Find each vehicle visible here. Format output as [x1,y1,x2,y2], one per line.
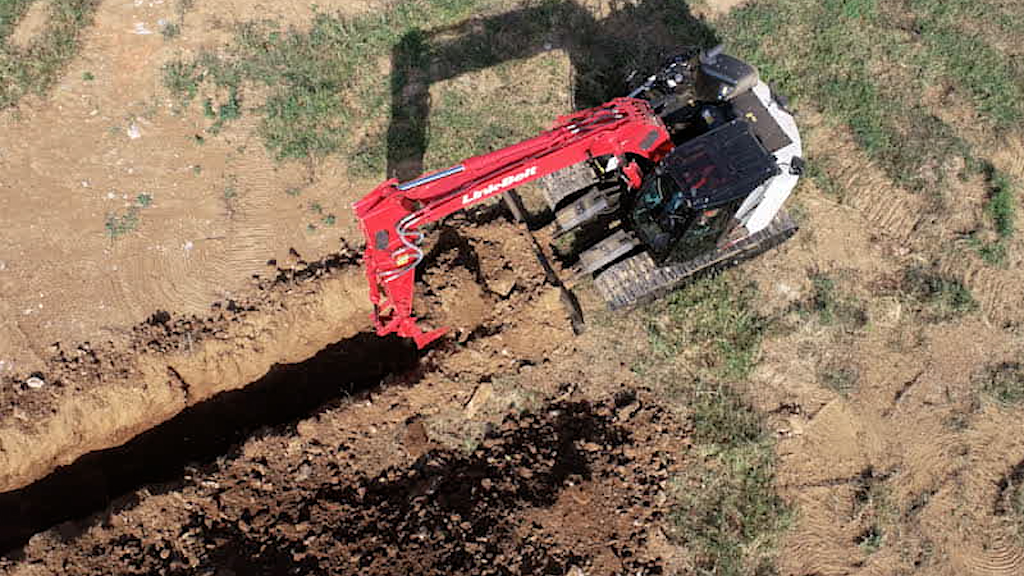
[347,41,810,349]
